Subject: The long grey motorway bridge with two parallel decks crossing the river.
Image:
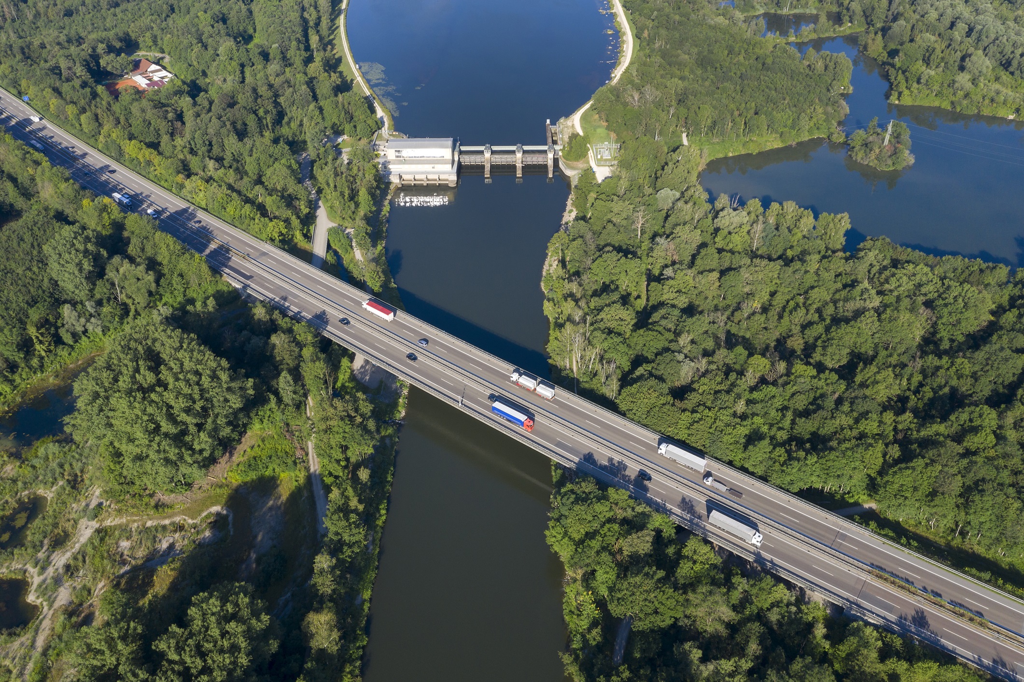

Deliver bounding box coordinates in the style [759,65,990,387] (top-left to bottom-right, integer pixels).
[229,252,874,604]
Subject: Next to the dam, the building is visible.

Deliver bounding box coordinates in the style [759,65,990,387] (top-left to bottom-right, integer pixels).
[371,135,461,186]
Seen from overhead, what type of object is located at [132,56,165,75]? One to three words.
house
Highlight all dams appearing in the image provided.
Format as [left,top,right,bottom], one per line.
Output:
[460,121,562,178]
